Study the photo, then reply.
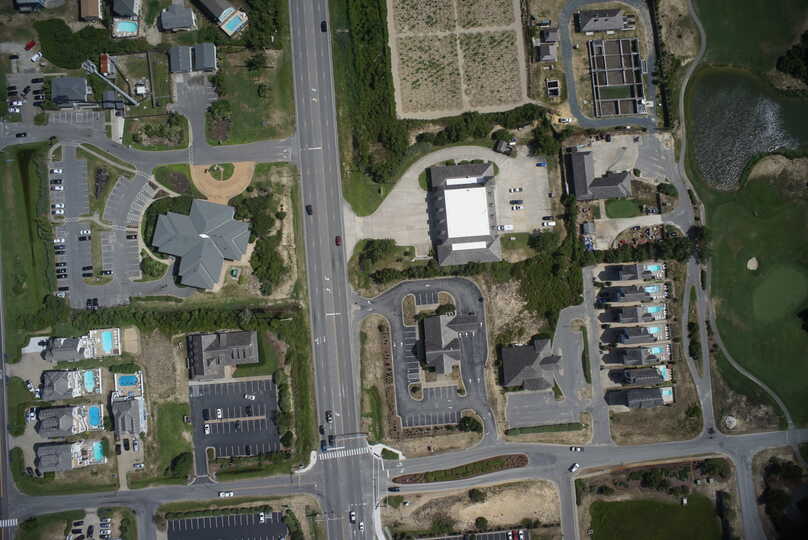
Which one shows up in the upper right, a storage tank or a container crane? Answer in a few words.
storage tank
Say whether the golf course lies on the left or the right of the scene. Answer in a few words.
right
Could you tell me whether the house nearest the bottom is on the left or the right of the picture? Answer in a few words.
left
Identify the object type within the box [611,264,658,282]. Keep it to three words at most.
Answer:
house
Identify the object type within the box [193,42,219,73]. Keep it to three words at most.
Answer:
building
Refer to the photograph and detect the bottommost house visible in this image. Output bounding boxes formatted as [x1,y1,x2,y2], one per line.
[36,437,88,471]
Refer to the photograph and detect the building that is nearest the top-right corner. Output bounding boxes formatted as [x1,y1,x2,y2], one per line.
[578,9,637,35]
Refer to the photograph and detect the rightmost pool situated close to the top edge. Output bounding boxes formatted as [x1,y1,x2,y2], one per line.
[224,9,248,36]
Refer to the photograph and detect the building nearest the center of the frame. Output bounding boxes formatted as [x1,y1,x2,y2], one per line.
[432,163,502,265]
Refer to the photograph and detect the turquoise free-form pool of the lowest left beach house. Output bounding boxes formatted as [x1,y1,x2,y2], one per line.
[81,441,107,467]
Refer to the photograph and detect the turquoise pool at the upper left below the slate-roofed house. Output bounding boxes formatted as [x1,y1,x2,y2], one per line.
[113,18,139,38]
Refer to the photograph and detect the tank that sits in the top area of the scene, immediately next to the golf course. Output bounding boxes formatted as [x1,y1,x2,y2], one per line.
[587,38,649,119]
